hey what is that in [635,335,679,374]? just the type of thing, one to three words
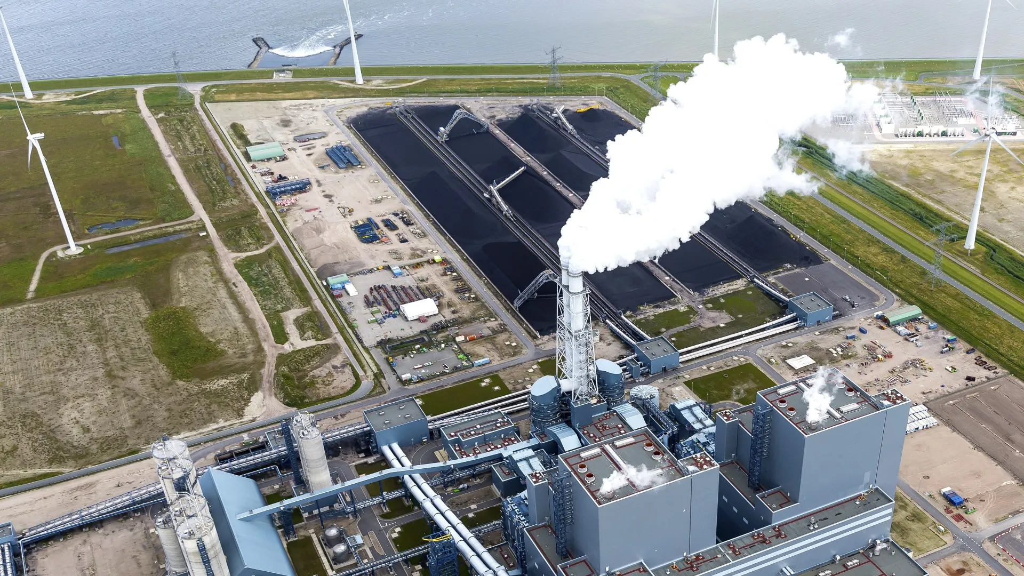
house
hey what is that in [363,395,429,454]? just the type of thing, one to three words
house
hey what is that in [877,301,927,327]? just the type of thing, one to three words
shed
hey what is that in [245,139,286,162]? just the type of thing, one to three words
shed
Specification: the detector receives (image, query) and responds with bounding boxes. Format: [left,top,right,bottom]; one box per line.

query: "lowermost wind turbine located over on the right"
[947,79,1024,252]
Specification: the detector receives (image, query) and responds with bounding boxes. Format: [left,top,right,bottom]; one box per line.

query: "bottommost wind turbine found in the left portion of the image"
[15,81,82,253]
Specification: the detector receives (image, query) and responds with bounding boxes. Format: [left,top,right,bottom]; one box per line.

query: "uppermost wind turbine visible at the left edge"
[0,4,36,100]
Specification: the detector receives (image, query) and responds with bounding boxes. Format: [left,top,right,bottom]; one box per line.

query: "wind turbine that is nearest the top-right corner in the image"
[967,0,991,82]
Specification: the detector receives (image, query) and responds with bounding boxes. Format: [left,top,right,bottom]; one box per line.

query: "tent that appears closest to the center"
[401,298,437,321]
